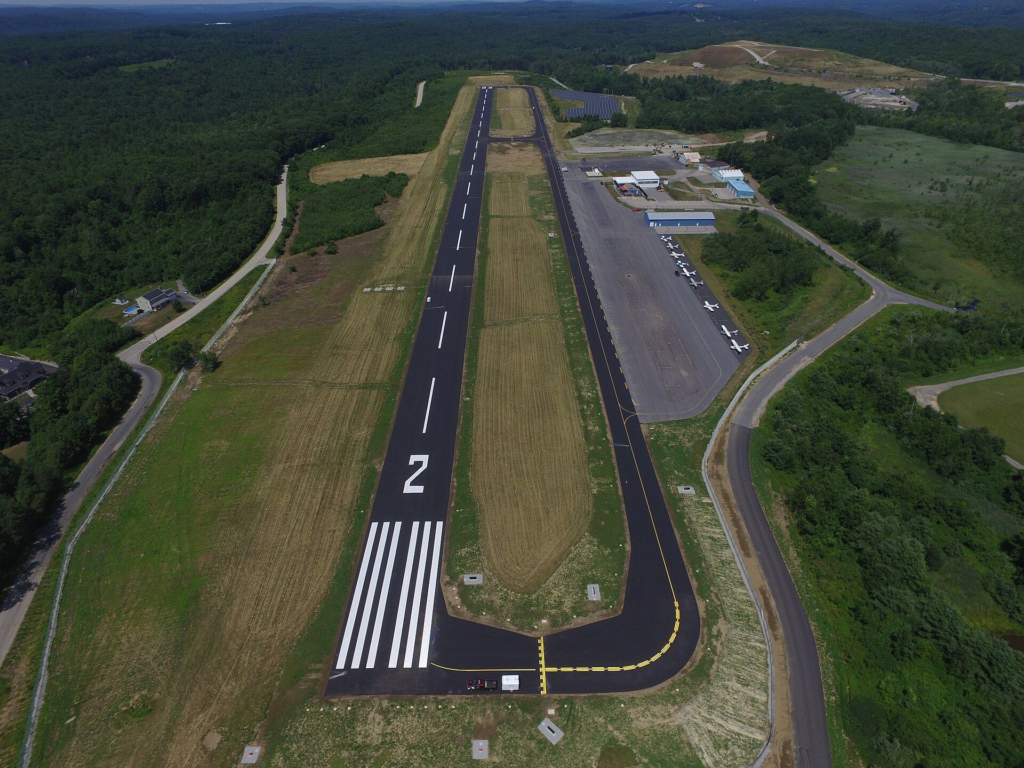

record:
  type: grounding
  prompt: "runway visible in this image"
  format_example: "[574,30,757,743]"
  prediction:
[326,87,494,695]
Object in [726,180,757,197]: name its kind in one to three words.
hangar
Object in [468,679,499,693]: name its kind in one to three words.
vehicle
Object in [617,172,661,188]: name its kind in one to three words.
building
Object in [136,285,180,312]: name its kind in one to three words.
house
